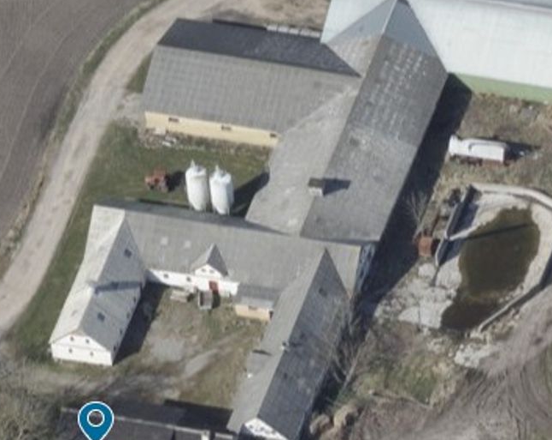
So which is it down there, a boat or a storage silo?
storage silo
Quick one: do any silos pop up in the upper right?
No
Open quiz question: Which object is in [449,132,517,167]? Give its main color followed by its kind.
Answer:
white trailer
